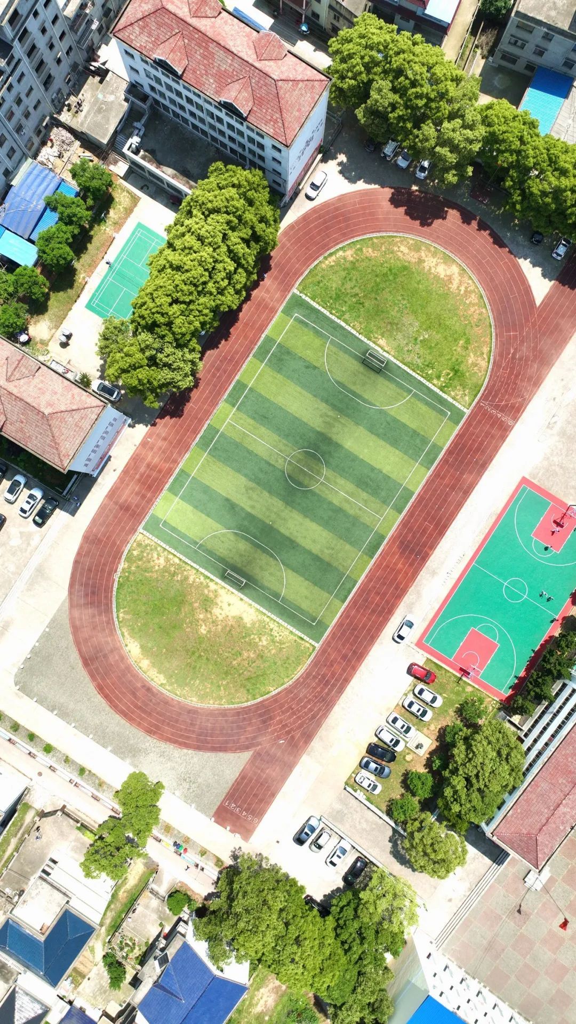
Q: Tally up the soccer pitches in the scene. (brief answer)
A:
1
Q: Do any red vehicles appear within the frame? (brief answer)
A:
Yes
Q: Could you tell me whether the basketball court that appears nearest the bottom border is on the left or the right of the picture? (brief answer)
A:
right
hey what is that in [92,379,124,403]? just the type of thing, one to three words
car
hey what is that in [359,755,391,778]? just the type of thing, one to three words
car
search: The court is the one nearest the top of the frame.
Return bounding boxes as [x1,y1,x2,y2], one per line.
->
[86,224,165,328]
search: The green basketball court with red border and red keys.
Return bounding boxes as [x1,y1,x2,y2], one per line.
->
[415,476,576,704]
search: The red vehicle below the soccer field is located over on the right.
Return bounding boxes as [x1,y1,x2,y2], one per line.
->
[405,661,437,685]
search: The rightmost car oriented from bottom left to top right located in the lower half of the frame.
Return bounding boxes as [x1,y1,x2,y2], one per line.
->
[391,613,416,645]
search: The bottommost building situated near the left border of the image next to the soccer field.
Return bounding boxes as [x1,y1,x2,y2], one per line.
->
[0,336,130,476]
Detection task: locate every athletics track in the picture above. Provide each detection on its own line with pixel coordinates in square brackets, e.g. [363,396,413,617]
[68,186,576,842]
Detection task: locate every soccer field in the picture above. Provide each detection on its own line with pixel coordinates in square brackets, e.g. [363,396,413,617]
[141,292,470,646]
